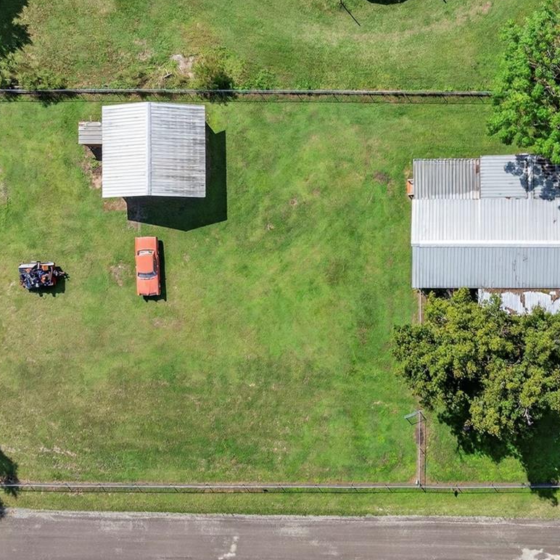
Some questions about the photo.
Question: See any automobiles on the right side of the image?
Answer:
No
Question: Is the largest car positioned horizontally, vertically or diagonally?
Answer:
vertically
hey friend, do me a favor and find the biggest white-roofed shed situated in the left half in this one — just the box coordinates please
[102,101,209,197]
